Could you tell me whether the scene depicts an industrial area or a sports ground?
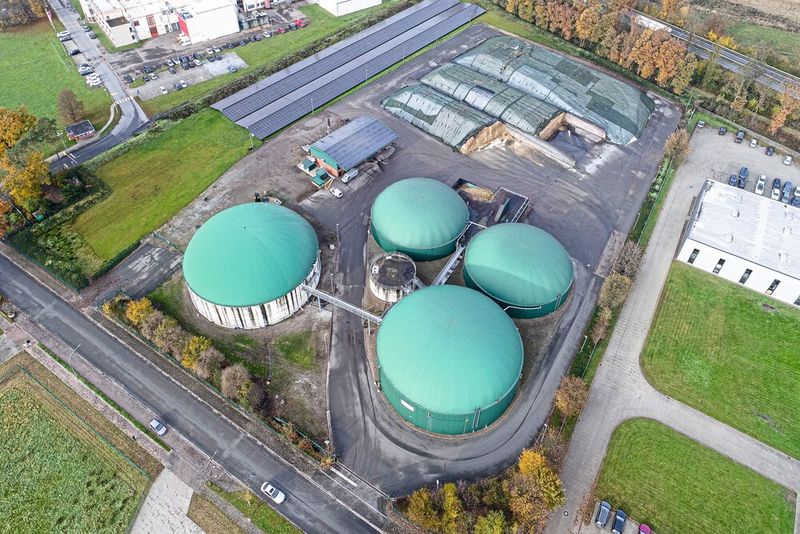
industrial area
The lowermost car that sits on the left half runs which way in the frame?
diagonally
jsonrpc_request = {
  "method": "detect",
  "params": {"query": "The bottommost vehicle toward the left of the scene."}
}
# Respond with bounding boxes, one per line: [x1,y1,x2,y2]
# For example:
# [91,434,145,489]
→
[261,481,286,504]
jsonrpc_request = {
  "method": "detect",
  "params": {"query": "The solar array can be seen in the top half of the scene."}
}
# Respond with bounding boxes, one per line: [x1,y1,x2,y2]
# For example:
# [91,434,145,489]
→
[238,1,486,141]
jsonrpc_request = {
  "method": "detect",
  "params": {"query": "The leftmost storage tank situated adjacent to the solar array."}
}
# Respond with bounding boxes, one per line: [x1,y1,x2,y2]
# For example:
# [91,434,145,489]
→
[180,202,326,329]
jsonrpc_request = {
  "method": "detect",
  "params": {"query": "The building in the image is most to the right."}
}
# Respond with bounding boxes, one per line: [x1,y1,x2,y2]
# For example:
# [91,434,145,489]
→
[672,179,800,304]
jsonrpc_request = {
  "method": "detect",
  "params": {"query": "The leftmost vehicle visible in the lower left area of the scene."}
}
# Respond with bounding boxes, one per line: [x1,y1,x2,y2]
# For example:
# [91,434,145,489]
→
[148,419,167,436]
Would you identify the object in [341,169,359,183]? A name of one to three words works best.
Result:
vehicle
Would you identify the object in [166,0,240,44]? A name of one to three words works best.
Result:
building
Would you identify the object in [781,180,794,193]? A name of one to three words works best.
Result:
vehicle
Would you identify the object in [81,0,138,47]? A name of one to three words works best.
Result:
building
